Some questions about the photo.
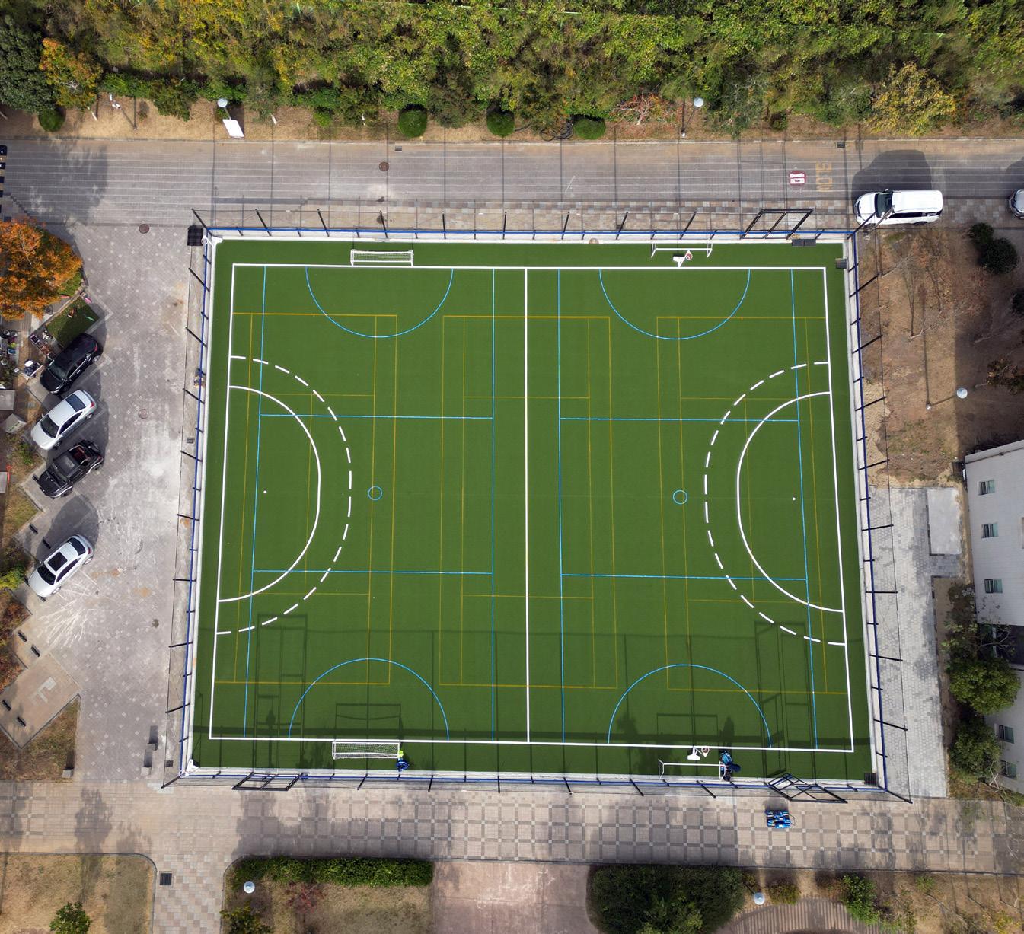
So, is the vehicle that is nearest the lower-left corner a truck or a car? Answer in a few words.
car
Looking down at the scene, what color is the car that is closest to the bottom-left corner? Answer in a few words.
white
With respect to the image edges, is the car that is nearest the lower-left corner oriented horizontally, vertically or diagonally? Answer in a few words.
diagonally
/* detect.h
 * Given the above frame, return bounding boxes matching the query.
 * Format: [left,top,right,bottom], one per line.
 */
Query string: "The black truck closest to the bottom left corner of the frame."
[36,440,107,502]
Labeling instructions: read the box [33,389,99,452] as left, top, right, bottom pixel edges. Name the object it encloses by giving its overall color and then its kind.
white car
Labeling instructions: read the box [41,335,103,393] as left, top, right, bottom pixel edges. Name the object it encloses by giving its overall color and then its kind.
black car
